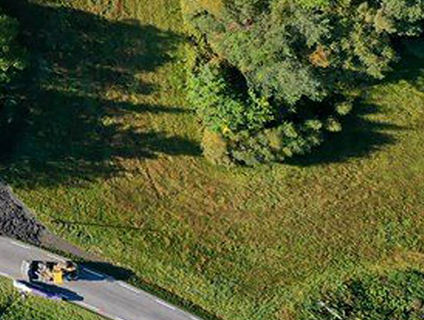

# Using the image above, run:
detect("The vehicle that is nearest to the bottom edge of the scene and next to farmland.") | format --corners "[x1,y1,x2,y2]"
[14,278,59,303]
